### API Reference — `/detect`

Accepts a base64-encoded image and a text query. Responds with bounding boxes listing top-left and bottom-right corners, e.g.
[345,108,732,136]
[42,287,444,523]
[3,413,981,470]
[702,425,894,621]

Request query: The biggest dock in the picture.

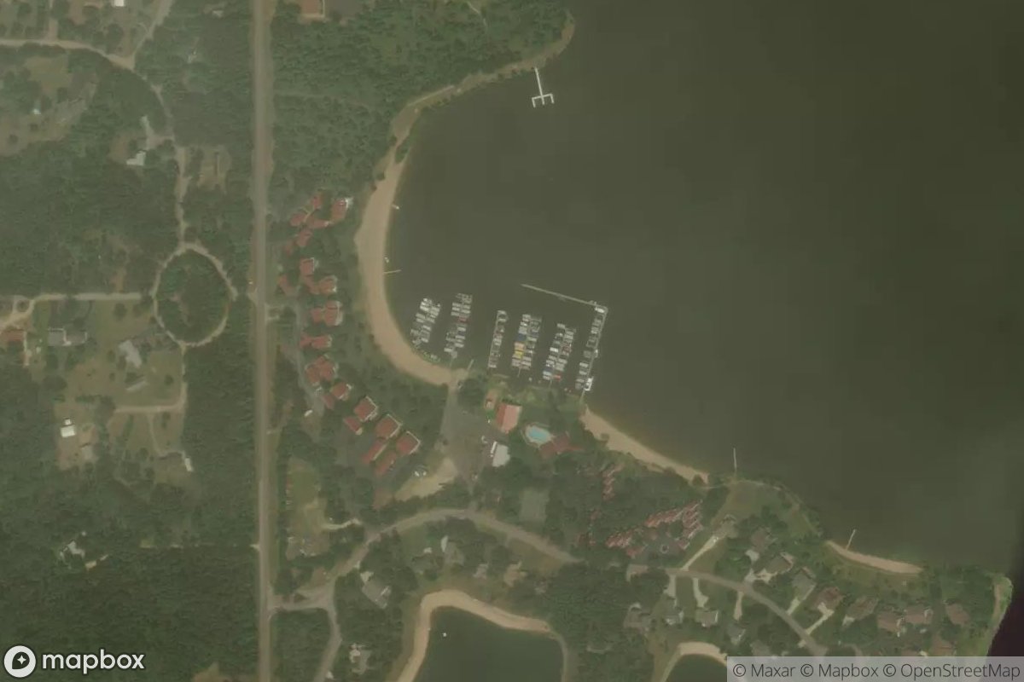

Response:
[522,283,609,402]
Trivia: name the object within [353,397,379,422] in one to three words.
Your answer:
building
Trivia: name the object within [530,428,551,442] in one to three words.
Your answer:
swimming pool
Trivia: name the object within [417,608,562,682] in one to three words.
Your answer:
pond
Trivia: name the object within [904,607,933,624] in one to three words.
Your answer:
house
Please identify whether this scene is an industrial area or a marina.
marina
